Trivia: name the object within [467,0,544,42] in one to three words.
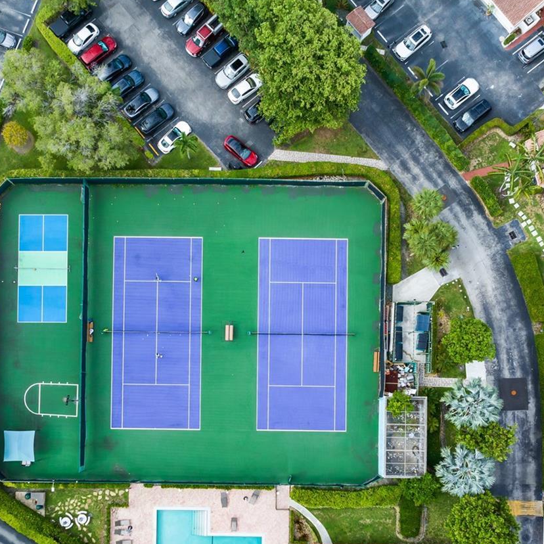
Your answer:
house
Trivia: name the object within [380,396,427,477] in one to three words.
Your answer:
house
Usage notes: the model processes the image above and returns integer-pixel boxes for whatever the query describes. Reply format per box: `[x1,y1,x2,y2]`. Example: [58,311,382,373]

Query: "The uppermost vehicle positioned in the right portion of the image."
[363,0,397,23]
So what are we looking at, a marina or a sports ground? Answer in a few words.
sports ground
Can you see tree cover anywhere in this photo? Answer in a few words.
Yes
